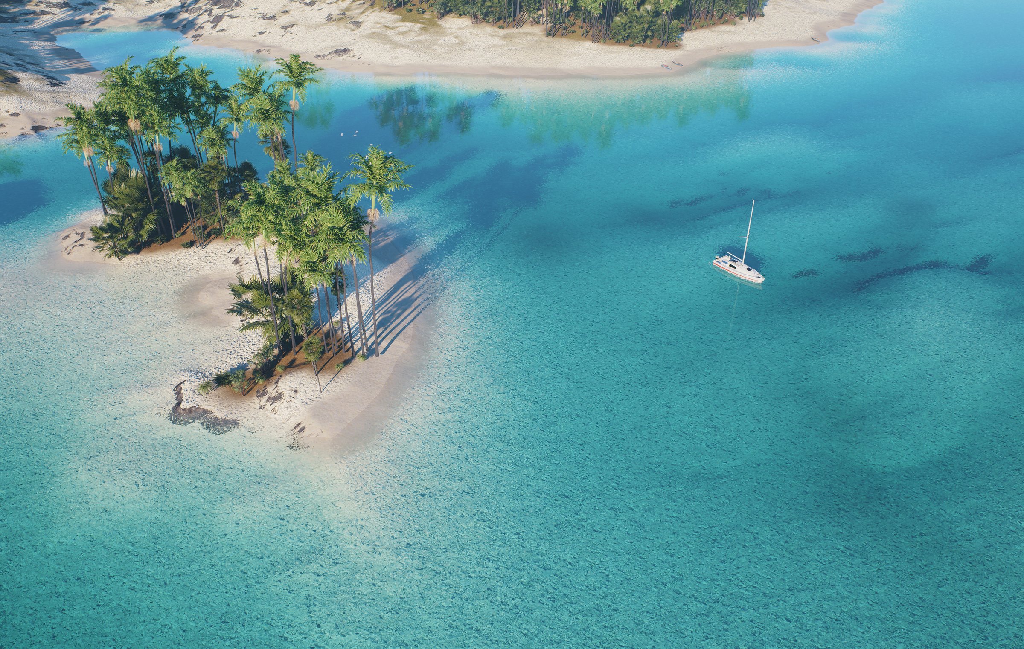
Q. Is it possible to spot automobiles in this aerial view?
No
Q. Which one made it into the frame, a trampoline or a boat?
boat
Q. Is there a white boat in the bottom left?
No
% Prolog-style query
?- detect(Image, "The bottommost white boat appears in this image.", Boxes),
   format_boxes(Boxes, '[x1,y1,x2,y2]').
[711,201,763,281]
